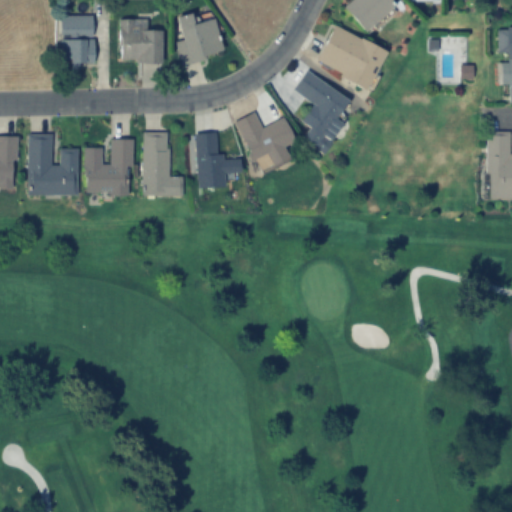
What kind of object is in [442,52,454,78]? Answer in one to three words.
swimming pool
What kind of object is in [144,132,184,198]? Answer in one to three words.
house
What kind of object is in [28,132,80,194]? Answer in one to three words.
house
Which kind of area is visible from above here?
golf course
